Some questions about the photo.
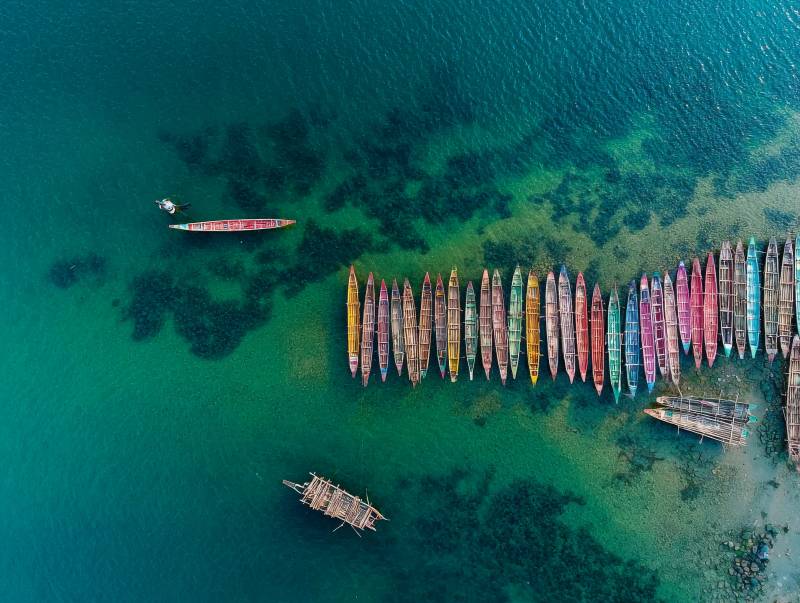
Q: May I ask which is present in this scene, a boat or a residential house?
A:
boat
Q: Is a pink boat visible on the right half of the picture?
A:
Yes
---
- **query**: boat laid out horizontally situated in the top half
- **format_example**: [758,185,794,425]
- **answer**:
[166,217,296,231]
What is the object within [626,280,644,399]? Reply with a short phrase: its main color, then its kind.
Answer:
blue boat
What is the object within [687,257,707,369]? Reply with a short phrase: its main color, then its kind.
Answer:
pink boat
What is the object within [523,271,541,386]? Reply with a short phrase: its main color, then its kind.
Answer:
yellow boat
